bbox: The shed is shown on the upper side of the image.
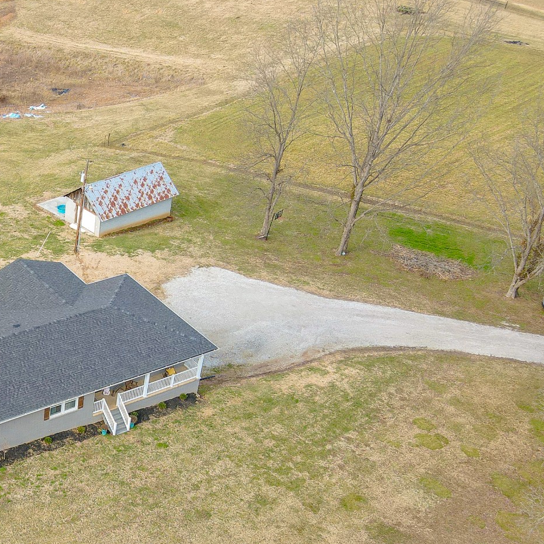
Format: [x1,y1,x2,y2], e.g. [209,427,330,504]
[65,159,178,237]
